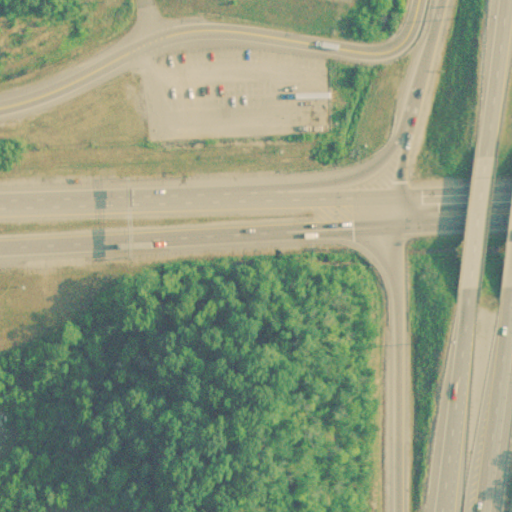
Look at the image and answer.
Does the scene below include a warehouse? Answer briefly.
No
